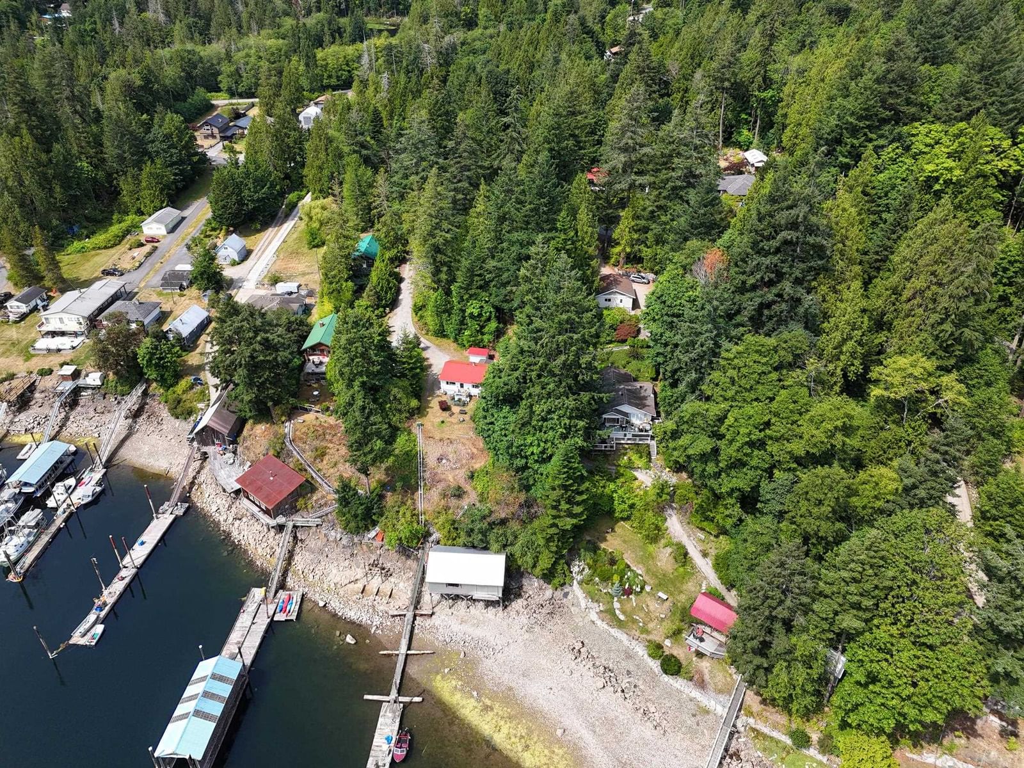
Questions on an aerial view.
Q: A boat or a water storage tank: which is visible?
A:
boat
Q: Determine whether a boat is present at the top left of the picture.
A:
No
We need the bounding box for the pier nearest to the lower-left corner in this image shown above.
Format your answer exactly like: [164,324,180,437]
[70,568,135,644]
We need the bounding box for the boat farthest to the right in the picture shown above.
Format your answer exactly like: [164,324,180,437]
[392,728,411,765]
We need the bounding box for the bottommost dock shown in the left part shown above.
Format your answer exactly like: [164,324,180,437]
[363,701,404,768]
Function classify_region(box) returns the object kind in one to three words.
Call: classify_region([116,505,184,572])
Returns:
pier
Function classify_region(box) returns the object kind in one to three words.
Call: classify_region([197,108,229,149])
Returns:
house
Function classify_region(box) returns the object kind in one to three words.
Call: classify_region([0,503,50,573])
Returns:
boat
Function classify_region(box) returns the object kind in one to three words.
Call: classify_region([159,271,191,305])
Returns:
building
